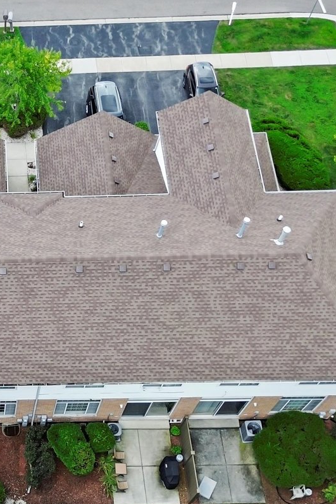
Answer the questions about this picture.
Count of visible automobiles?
2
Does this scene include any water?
No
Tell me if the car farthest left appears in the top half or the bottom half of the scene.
top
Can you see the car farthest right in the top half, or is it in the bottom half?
top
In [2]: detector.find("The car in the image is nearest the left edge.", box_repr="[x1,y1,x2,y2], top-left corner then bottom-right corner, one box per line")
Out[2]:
[84,84,127,123]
